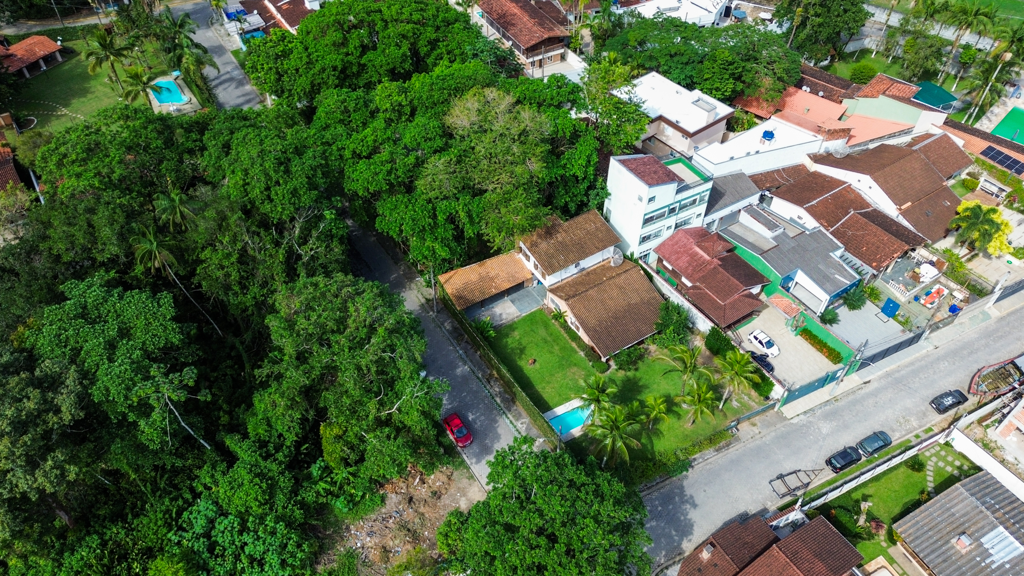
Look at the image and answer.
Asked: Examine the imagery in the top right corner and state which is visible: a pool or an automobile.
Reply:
pool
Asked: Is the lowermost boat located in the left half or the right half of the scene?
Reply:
right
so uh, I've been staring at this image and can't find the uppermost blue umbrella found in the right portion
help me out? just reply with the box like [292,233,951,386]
[728,9,750,22]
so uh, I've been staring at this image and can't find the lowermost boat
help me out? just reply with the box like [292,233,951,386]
[966,352,1024,401]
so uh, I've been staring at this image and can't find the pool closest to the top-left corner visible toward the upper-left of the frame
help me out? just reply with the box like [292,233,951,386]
[149,77,202,116]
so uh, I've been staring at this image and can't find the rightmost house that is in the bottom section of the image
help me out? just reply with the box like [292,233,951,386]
[980,394,1024,477]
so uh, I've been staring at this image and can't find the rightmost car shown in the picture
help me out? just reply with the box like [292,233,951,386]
[925,389,971,415]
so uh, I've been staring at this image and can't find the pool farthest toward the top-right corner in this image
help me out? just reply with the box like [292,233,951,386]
[989,103,1024,144]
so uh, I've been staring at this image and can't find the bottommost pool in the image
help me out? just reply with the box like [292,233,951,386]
[546,393,612,442]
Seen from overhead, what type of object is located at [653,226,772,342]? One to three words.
house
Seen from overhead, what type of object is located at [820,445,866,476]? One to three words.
car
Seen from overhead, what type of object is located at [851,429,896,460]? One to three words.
car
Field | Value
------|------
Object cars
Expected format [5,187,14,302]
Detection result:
[925,389,971,415]
[744,344,780,376]
[442,409,474,452]
[851,429,896,460]
[744,327,784,361]
[820,445,866,476]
